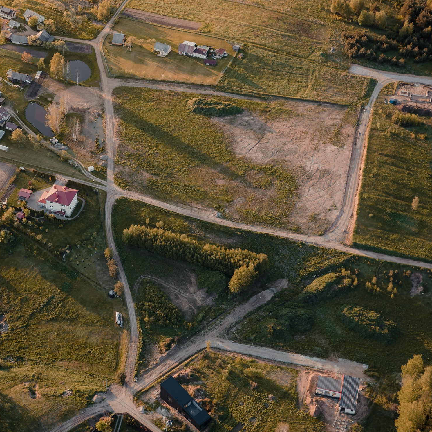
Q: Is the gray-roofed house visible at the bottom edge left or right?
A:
right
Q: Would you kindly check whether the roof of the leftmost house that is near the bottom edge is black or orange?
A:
black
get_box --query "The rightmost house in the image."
[318,375,361,416]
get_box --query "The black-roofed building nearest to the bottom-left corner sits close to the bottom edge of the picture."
[160,376,211,431]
